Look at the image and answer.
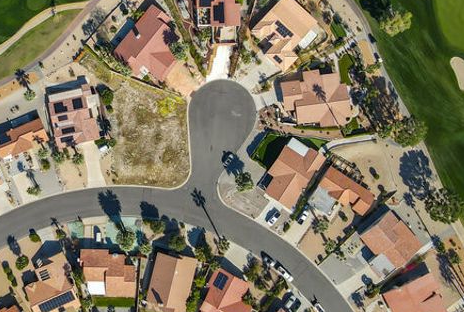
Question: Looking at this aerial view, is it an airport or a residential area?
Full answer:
The picture captures a residential area.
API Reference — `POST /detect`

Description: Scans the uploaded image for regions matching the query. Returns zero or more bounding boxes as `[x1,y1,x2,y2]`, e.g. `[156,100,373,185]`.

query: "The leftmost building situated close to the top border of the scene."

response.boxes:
[119,9,180,82]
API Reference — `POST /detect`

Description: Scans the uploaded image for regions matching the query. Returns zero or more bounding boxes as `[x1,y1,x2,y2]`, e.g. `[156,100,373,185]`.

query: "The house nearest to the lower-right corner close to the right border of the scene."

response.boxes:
[383,271,448,312]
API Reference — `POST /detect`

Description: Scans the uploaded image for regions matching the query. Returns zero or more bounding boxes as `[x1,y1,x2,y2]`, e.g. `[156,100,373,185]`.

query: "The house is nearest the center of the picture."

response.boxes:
[255,137,324,213]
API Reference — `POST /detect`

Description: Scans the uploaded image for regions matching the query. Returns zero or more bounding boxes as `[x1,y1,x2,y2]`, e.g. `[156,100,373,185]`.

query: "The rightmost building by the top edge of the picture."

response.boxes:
[253,0,318,69]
